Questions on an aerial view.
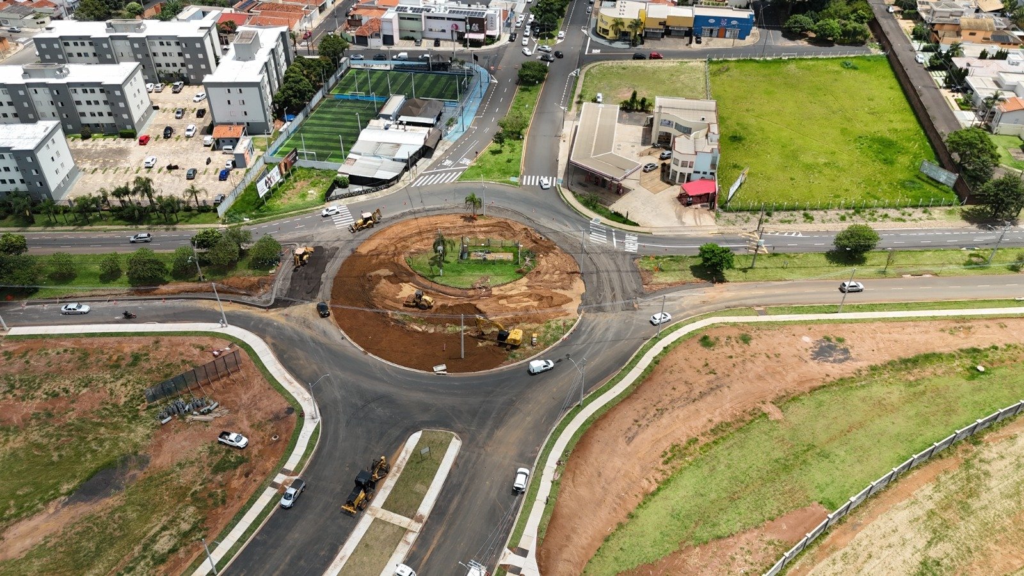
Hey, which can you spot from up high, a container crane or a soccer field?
soccer field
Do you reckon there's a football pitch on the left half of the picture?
Yes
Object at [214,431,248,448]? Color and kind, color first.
white vehicle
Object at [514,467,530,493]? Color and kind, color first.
white car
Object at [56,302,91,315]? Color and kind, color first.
white vehicle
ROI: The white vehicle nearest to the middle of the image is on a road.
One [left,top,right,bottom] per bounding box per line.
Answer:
[528,358,554,374]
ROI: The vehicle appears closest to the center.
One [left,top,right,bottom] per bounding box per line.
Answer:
[473,318,521,349]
